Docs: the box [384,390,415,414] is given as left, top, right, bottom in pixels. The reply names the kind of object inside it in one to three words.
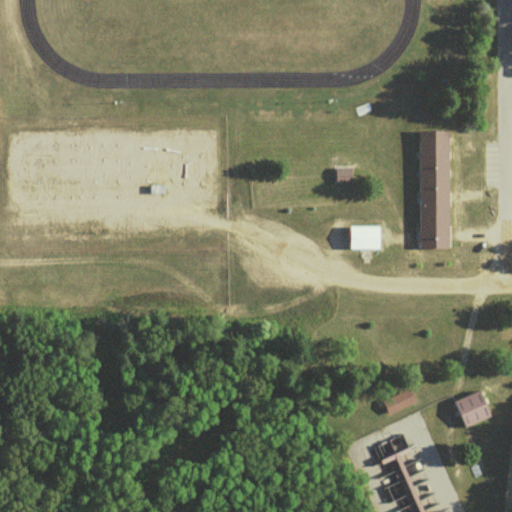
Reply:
shed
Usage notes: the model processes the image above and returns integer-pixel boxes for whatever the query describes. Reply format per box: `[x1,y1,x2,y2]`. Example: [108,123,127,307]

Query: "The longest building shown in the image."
[420,130,451,249]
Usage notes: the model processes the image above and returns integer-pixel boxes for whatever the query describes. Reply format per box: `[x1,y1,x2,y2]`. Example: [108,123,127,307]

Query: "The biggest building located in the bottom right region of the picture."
[456,392,492,428]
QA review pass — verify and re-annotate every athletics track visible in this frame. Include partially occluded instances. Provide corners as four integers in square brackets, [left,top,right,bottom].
[20,0,421,88]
